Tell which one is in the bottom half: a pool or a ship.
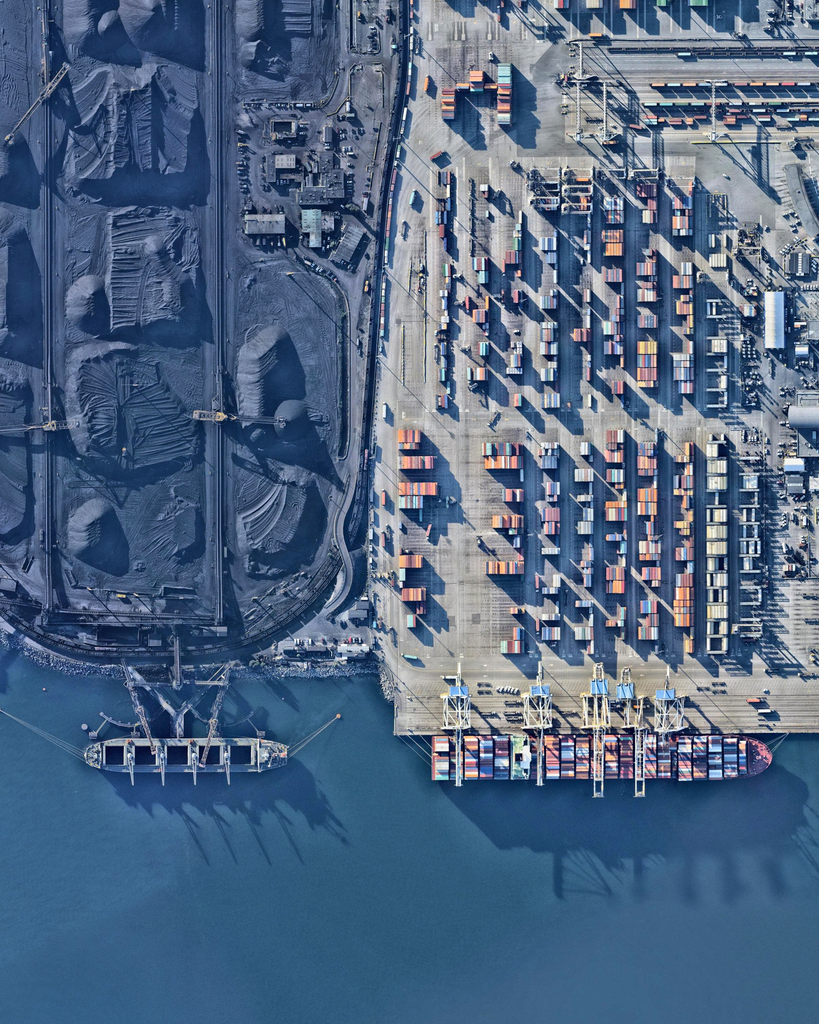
ship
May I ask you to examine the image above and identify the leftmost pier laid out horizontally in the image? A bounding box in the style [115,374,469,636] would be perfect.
[99,708,166,728]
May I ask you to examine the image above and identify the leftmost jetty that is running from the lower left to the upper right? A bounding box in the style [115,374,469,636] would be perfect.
[180,659,235,716]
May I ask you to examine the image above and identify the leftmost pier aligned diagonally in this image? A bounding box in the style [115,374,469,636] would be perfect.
[126,664,181,719]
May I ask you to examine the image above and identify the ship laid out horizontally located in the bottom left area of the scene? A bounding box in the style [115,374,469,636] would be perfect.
[84,738,287,786]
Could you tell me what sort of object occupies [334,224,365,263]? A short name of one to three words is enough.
building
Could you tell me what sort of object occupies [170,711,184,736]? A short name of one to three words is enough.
pier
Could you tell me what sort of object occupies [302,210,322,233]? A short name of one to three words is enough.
building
